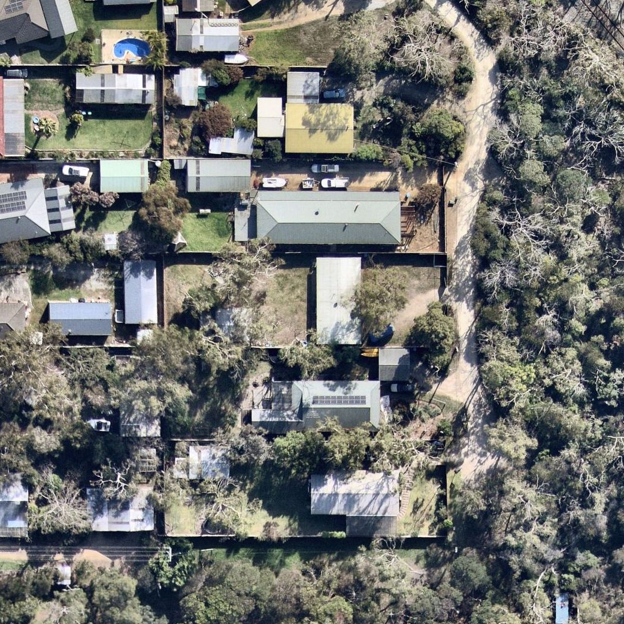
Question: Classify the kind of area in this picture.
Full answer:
This looks like a residential area.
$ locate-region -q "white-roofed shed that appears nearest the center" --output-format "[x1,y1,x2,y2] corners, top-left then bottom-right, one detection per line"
[315,257,361,345]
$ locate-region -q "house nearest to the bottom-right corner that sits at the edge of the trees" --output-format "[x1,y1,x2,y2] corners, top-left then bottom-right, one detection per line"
[311,470,400,536]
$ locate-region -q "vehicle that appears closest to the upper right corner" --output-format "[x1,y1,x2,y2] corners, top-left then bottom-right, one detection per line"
[322,88,346,100]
